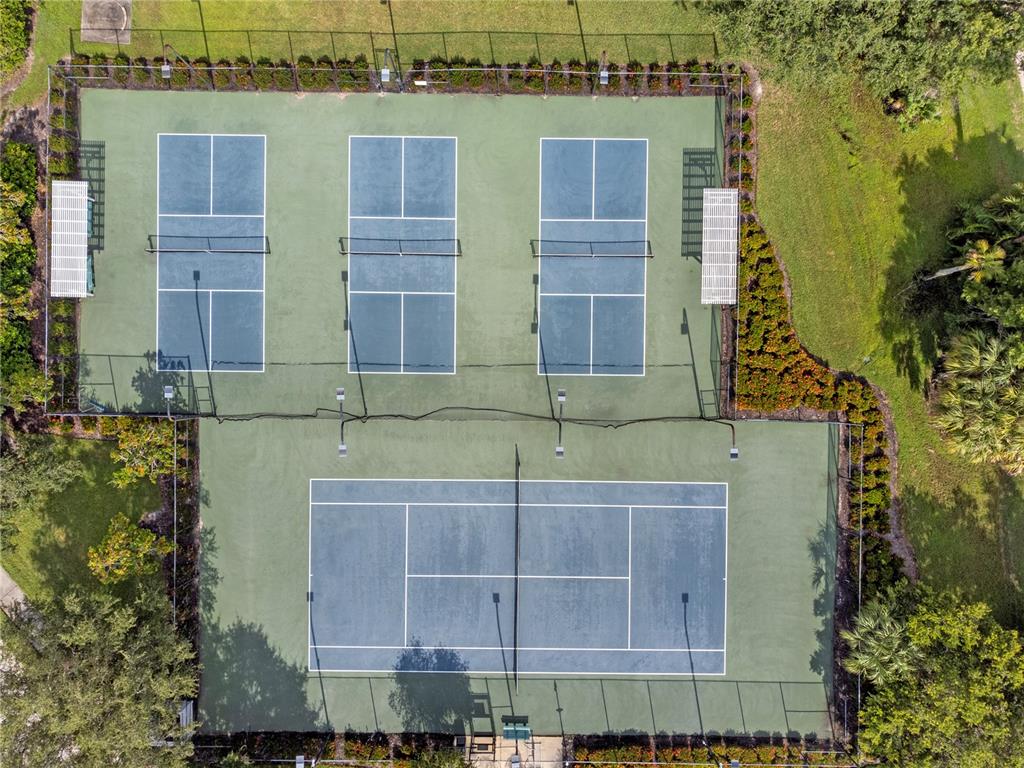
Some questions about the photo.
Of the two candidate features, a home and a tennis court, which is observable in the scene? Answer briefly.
tennis court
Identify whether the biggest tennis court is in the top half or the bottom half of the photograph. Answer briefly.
bottom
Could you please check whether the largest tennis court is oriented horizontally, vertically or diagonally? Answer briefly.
horizontally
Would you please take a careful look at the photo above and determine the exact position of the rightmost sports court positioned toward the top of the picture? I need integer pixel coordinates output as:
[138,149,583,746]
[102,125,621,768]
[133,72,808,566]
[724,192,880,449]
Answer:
[538,138,648,377]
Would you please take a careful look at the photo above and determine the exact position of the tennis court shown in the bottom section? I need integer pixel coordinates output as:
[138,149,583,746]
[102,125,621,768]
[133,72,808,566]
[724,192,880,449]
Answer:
[307,479,728,676]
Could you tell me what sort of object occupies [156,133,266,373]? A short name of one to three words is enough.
sports court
